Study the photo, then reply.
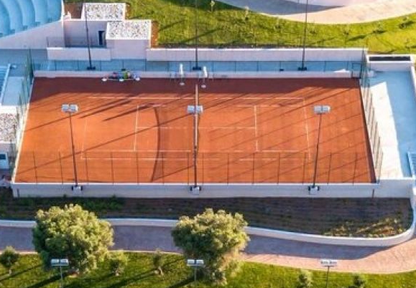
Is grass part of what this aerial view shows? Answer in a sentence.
Yes, there's grass in this view.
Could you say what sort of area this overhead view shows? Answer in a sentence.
This image shows a sports ground.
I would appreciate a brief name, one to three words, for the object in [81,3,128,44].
building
